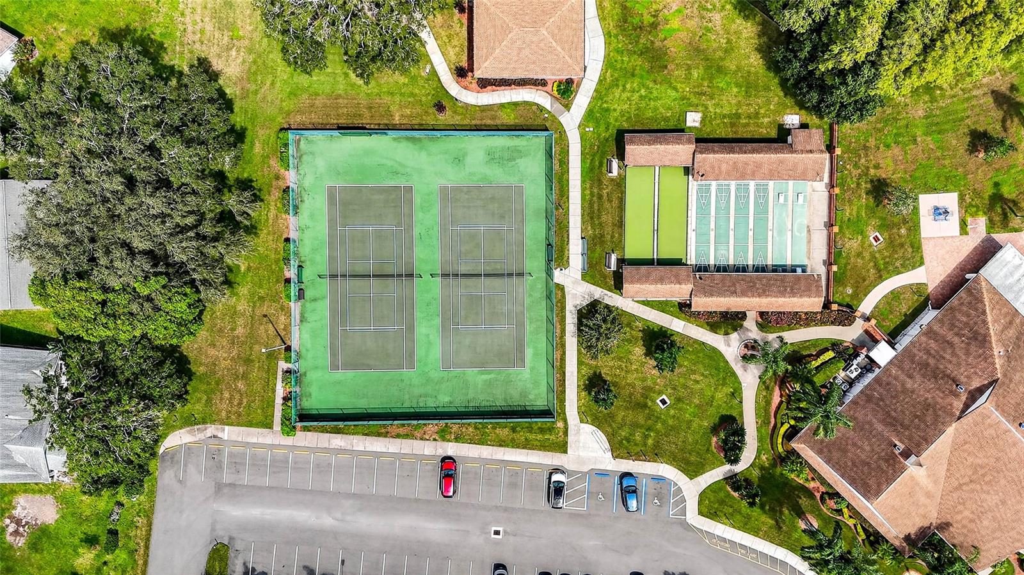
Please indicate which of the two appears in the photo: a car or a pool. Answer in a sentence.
There is a car in the scene.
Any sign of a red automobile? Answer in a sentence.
Yes, the image includes a red automobile.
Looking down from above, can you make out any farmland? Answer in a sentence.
No, there's no farmland in this view.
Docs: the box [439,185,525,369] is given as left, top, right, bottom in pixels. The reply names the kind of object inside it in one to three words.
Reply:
tennis court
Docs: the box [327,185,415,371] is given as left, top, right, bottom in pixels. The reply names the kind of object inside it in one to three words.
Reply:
tennis court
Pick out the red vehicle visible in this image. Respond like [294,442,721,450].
[440,458,458,495]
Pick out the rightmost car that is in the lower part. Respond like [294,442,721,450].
[619,474,637,511]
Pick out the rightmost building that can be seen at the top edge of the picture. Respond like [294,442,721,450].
[473,0,584,80]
